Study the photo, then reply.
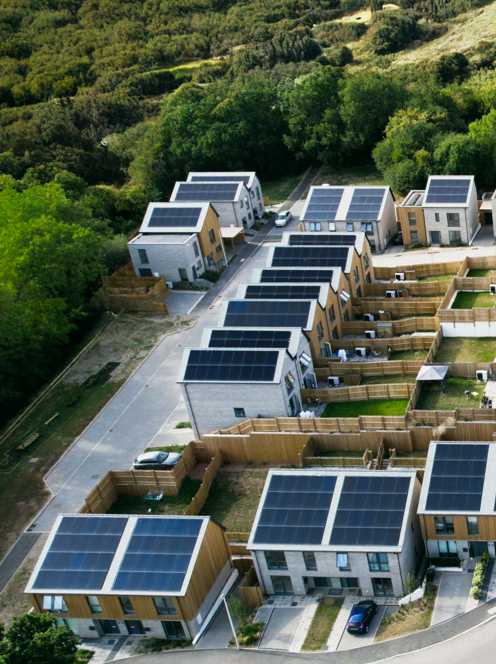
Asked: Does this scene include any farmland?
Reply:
No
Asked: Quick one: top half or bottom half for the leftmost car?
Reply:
bottom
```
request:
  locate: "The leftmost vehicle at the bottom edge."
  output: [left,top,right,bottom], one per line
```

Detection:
[342,593,381,637]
